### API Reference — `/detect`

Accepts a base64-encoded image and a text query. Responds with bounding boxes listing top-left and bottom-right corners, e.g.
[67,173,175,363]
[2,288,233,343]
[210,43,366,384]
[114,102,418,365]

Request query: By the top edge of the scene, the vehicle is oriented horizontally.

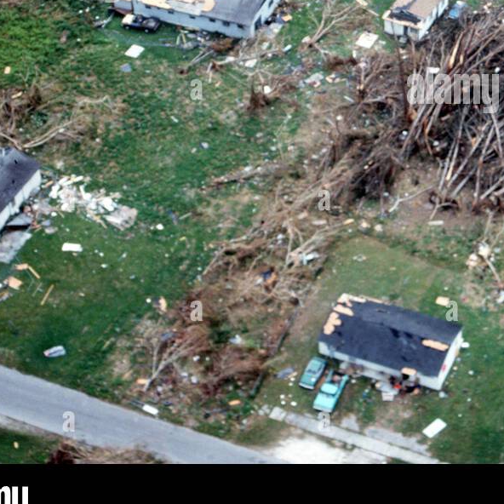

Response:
[122,14,161,32]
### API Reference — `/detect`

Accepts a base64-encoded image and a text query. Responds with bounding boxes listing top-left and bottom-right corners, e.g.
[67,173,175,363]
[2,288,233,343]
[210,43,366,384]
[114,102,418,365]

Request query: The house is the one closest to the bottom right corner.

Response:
[319,293,461,390]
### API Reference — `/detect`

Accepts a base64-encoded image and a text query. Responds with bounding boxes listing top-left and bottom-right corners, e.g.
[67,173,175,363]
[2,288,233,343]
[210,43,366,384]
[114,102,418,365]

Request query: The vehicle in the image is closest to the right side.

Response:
[316,363,355,413]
